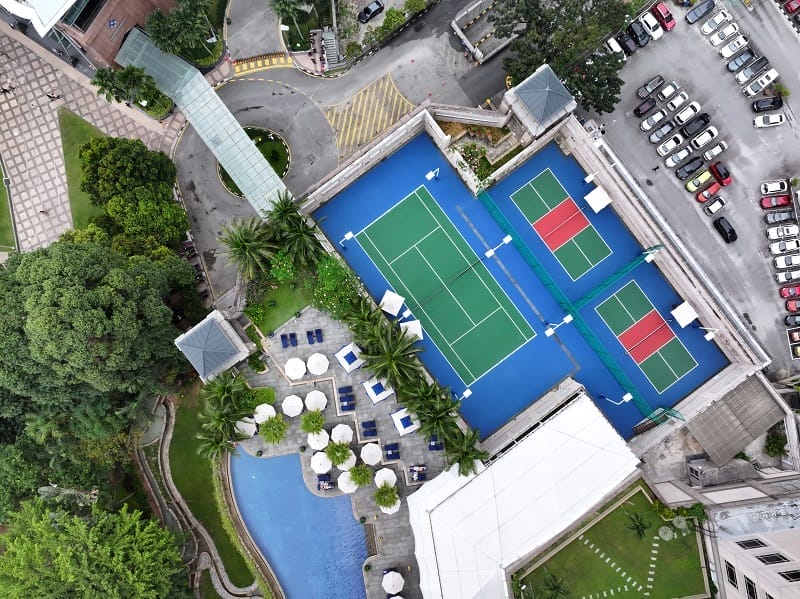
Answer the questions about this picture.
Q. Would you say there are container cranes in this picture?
No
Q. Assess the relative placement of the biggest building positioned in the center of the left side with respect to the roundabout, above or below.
below it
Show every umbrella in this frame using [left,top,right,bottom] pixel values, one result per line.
[360,442,382,465]
[309,451,332,473]
[336,470,358,494]
[375,466,396,488]
[308,354,329,374]
[253,401,277,424]
[378,493,402,515]
[235,416,257,437]
[331,422,354,445]
[338,447,358,469]
[381,569,404,593]
[308,428,329,449]
[282,394,304,416]
[284,356,307,379]
[305,389,327,410]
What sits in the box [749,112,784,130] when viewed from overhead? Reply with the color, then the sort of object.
white car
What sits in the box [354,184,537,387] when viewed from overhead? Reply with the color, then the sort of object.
green tennis court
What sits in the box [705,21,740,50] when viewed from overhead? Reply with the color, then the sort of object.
white car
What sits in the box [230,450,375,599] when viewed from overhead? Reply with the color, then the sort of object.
blue swimming pool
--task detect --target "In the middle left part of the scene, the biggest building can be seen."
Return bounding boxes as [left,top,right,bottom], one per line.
[173,306,252,388]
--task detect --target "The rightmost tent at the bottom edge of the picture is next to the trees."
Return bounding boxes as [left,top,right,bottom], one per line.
[407,389,641,599]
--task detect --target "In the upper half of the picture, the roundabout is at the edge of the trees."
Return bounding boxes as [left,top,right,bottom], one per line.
[214,123,291,199]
